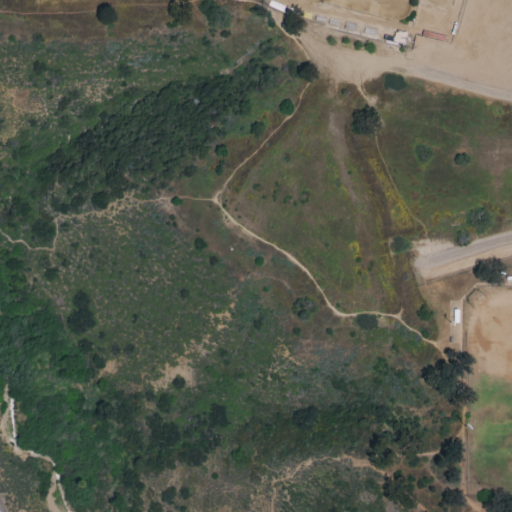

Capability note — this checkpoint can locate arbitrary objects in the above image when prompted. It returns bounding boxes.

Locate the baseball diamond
[464,285,512,500]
